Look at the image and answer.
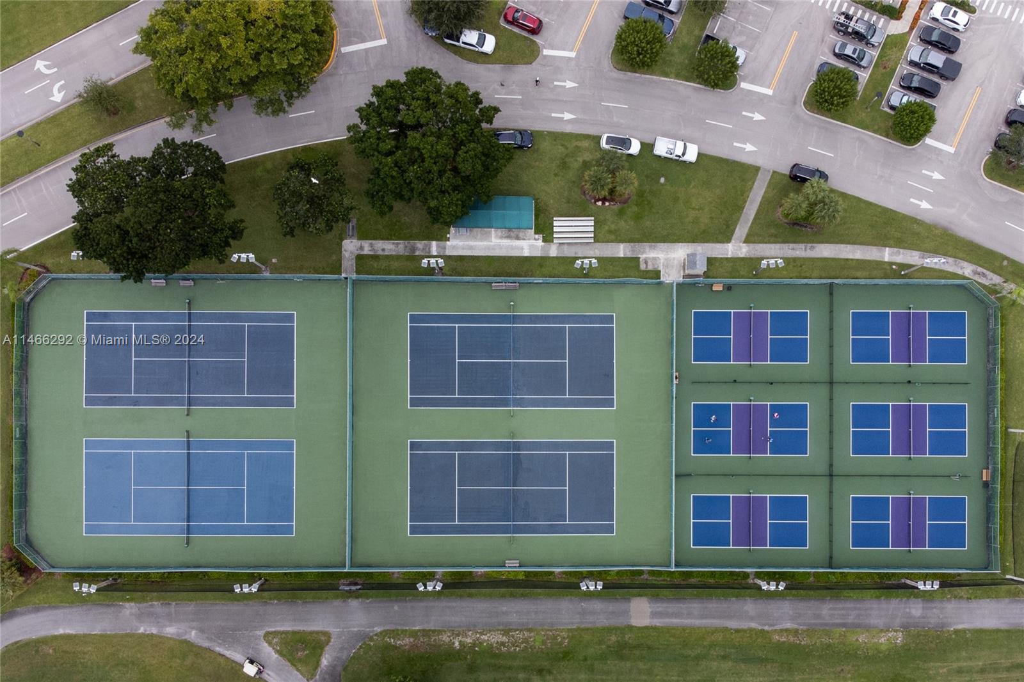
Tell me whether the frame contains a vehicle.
Yes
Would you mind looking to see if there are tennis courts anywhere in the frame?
Yes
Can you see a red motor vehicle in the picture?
Yes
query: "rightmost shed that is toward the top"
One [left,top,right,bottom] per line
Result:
[686,252,710,276]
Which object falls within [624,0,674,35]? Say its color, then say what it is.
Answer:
blue truck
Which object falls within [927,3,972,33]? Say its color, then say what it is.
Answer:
white car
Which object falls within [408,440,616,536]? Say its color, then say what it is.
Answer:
blue tennis court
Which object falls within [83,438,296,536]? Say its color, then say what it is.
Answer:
blue tennis court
